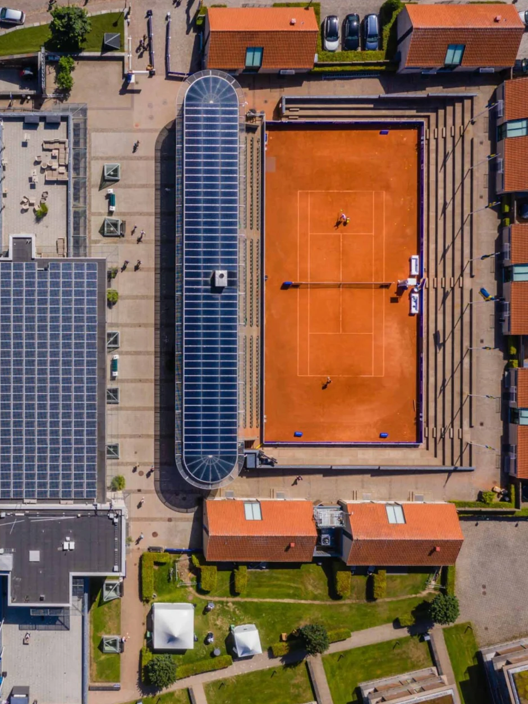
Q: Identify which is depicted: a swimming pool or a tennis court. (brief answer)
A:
tennis court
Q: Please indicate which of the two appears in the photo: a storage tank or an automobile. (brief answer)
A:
automobile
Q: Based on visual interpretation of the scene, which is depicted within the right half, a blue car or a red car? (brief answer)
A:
blue car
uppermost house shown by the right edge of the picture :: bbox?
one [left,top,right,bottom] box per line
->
[399,4,525,74]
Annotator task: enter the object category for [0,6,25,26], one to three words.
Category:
car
